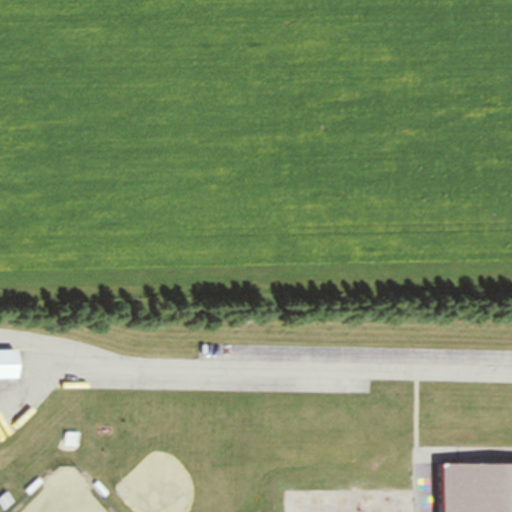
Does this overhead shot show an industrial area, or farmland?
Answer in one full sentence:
The picture captures farmland.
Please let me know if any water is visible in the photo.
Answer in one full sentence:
No, the picture contains no water.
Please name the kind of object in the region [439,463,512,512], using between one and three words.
building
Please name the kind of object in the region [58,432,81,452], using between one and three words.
shed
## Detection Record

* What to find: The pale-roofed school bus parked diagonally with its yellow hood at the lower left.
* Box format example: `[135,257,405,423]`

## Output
[10,408,37,430]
